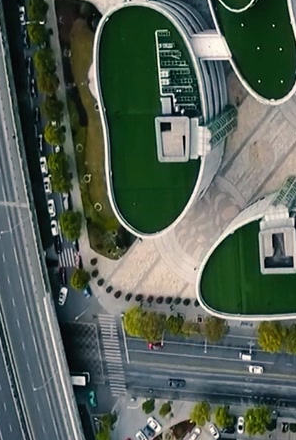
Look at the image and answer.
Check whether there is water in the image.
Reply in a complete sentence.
No, no water is visible.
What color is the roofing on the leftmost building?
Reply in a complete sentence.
From above, the roof of the leftmost building looks green.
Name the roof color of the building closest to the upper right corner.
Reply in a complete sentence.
The color of the roof on the building closest to the upper right corner is green.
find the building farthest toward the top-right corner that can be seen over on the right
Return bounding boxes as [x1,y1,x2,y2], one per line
[210,0,296,109]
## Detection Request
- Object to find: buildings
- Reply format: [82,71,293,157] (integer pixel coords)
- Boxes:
[94,1,244,239]
[199,173,296,318]
[210,0,296,109]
